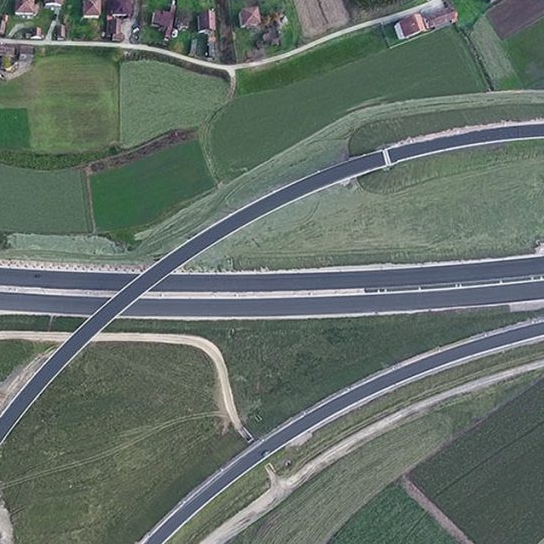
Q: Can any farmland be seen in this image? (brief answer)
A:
Yes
